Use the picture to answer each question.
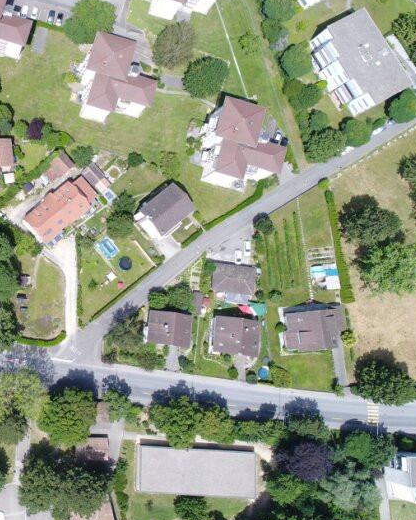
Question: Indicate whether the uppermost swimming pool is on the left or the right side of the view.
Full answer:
The uppermost swimming pool is on the left side of the image.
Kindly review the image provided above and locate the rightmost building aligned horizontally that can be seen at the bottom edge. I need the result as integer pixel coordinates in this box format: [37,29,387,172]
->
[132,438,256,499]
